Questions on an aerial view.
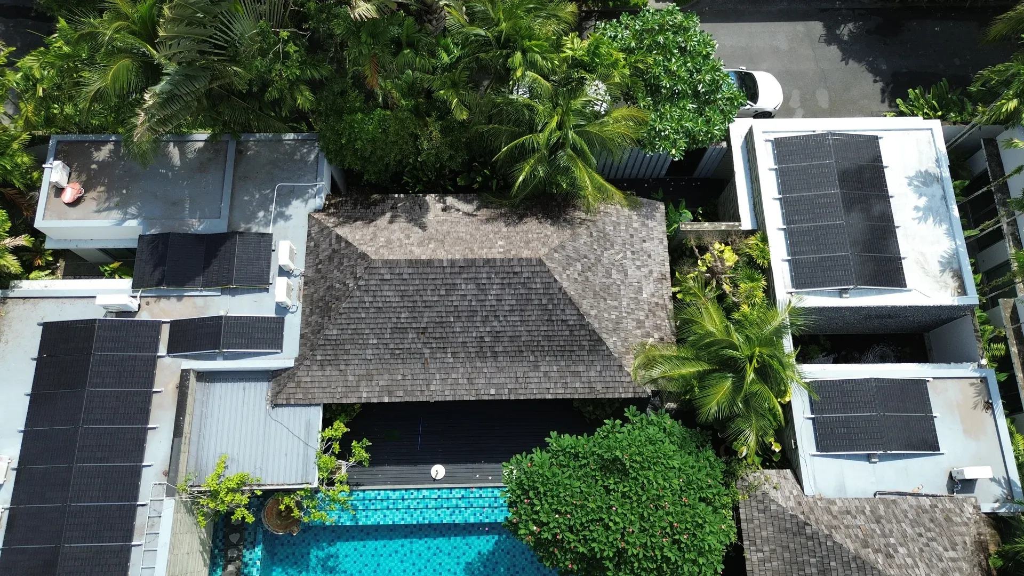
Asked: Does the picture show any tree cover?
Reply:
Yes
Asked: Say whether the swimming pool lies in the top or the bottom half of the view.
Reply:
bottom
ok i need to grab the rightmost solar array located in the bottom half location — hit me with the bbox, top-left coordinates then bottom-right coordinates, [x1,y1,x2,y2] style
[801,376,951,460]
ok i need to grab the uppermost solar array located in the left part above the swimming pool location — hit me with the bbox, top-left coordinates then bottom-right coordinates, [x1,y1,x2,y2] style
[127,233,281,290]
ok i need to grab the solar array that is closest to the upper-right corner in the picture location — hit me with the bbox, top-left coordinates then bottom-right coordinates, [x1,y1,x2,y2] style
[760,130,915,294]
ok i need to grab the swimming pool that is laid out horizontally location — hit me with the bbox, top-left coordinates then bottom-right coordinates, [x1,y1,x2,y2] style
[219,481,637,576]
